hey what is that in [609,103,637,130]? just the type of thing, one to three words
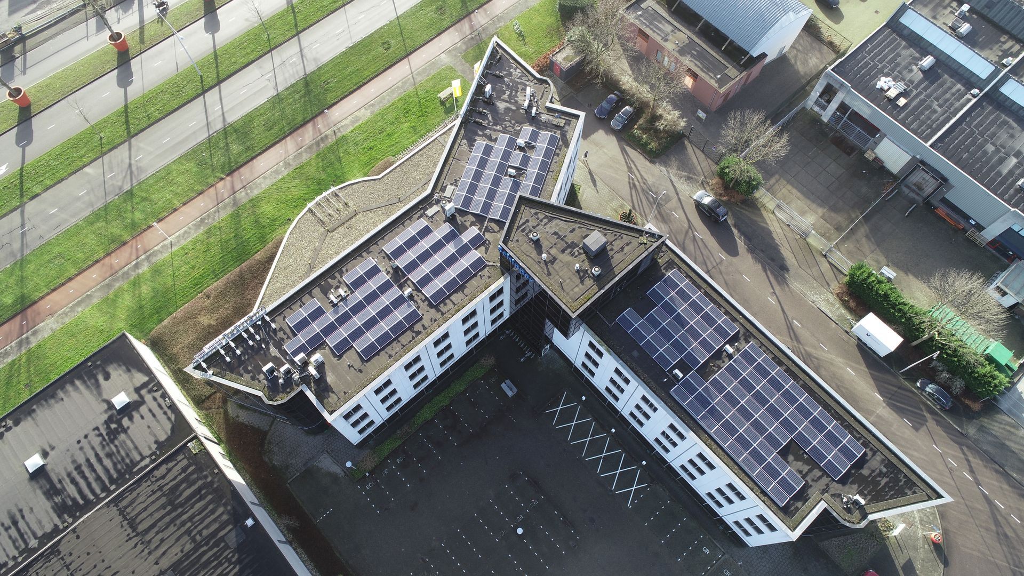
car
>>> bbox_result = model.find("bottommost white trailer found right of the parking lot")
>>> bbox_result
[845,312,904,358]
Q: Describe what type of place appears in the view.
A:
industrial area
